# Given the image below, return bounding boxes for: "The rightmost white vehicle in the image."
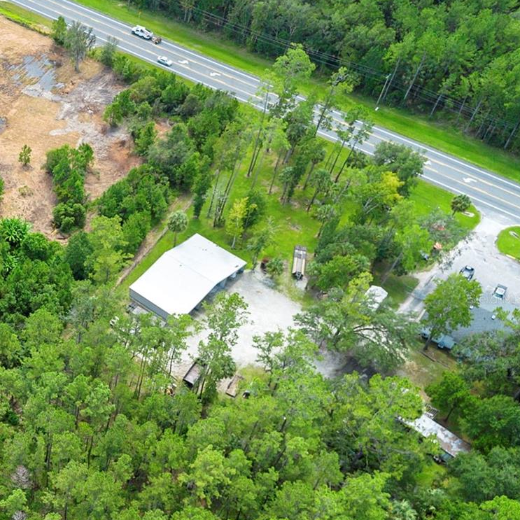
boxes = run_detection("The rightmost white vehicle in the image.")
[490,277,512,298]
